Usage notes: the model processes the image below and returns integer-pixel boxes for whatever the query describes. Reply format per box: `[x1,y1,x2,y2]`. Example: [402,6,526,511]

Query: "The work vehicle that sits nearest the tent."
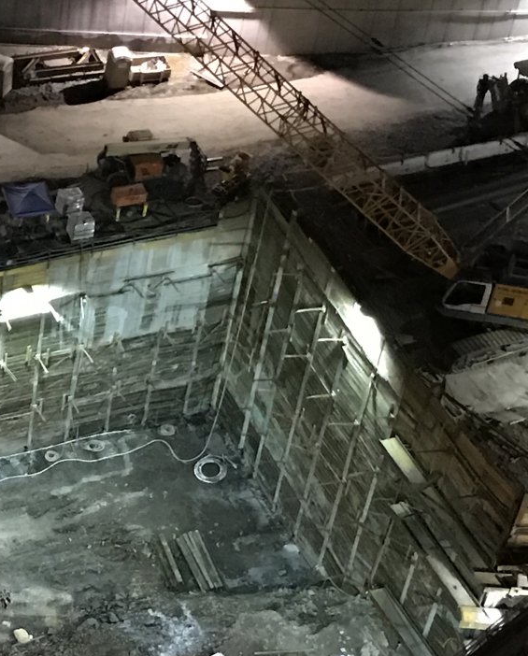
[113,135,229,195]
